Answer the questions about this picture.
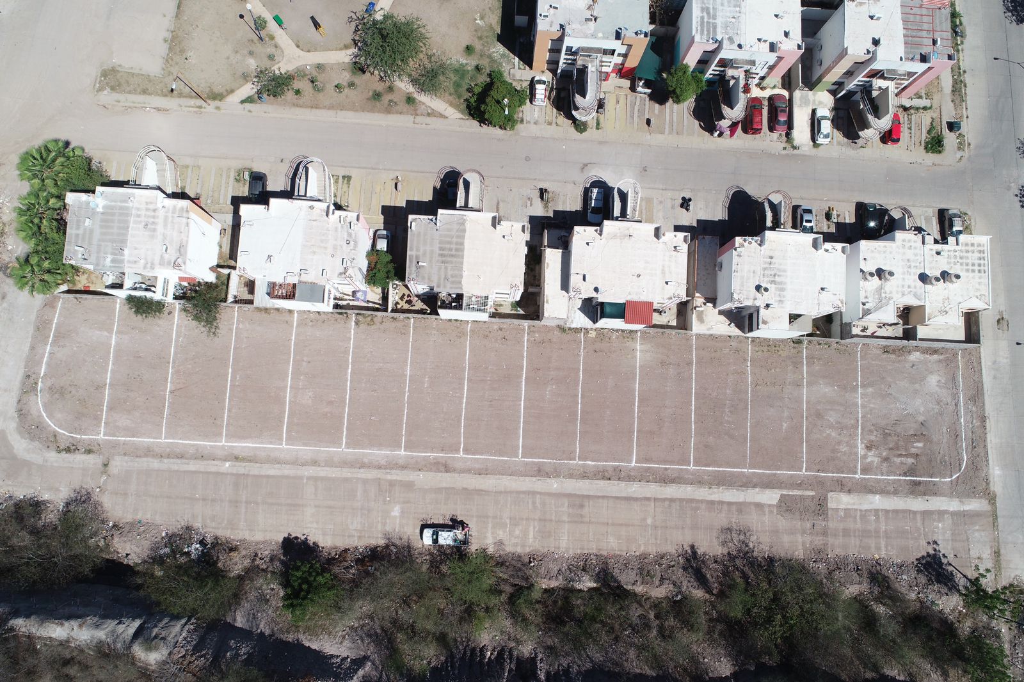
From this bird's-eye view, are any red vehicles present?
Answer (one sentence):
Yes, there's a red vehicle here.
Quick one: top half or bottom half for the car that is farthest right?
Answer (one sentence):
It is in the top half that the car that is farthest right appears.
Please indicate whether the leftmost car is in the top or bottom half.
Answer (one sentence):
Seen from above, the leftmost car lies in the top half of the view.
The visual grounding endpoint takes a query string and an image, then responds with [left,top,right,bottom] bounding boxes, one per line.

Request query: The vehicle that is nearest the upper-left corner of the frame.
[248,168,268,205]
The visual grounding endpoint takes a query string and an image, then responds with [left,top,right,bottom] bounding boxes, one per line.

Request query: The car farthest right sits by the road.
[942,207,964,243]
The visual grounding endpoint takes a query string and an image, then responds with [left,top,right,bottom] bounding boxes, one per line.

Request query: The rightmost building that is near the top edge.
[813,0,957,138]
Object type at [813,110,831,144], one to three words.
car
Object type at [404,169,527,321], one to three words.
building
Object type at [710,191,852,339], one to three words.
building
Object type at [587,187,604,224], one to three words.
car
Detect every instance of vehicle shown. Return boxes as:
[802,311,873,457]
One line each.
[248,168,268,205]
[444,172,461,207]
[797,201,816,235]
[634,64,651,98]
[532,76,548,107]
[374,224,391,256]
[882,116,900,145]
[745,98,764,135]
[942,207,964,243]
[769,96,788,133]
[587,187,604,224]
[813,110,831,144]
[423,527,468,548]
